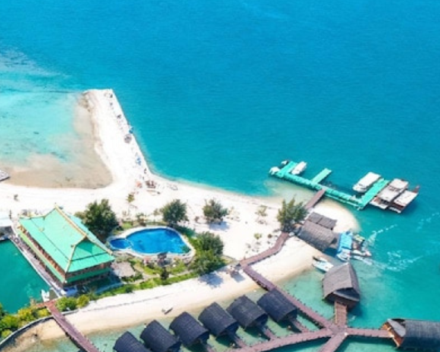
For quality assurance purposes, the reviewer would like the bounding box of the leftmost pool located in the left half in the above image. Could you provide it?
[108,236,133,251]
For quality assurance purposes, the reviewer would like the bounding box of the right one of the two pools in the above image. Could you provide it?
[125,225,195,256]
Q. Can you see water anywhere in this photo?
Yes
